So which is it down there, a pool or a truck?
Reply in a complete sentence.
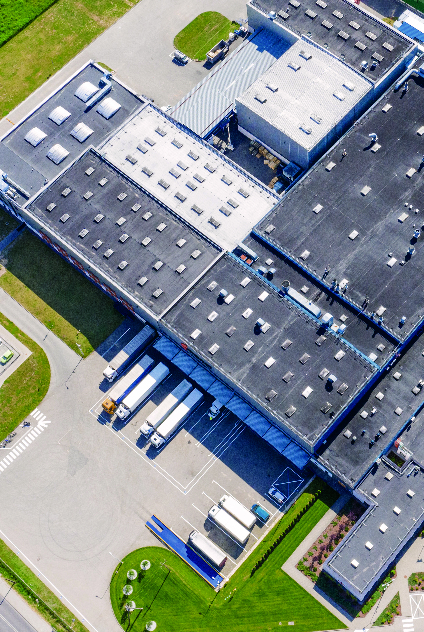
Visible in the photo is a truck.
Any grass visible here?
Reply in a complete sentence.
Yes, there is grass in the image.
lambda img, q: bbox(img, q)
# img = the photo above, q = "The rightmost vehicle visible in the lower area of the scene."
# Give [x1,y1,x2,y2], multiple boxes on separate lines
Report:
[270,487,286,502]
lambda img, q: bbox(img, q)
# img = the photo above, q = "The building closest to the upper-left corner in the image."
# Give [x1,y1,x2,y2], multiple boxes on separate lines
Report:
[0,60,145,227]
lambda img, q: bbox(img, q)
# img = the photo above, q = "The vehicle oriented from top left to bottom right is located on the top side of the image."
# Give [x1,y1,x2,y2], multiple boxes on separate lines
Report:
[173,49,189,64]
